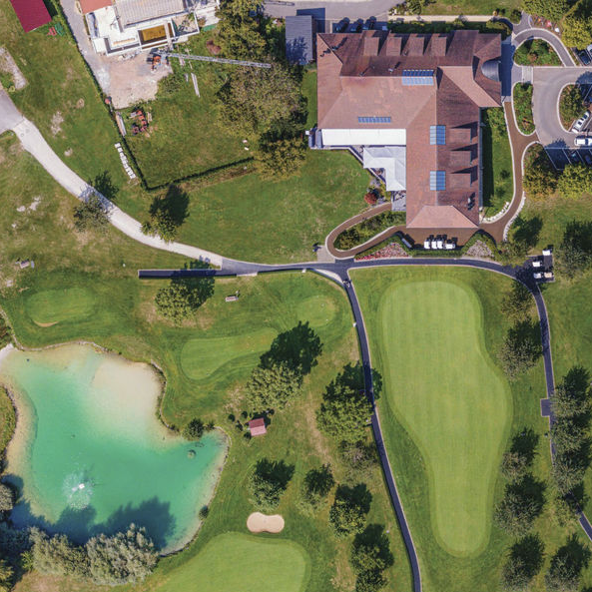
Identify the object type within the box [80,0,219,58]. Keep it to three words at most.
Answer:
house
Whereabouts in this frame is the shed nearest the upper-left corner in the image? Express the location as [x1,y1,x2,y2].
[10,0,53,33]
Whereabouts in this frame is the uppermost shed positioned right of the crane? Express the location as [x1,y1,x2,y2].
[285,15,312,65]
